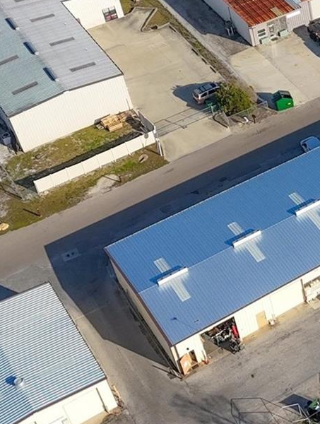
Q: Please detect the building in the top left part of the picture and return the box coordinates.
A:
[0,0,130,148]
